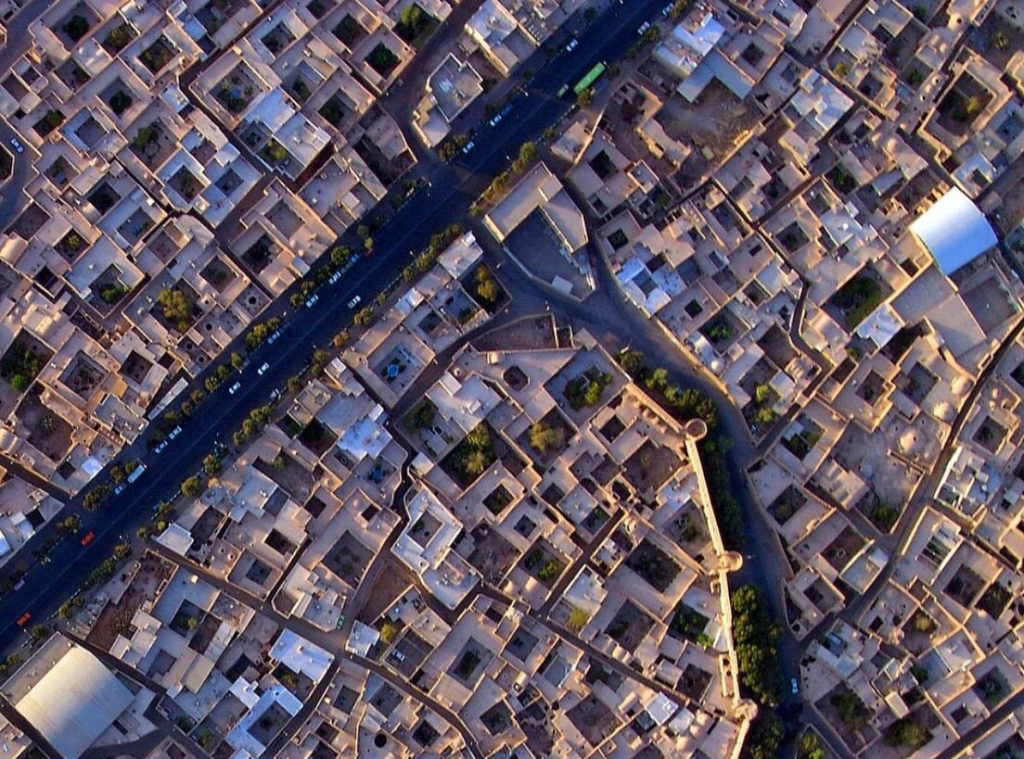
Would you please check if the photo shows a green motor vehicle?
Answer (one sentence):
Yes, looking at the shot, I can spot a green motor vehicle.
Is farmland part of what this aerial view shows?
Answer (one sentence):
No, there's no farmland in this view.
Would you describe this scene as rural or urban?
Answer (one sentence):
The land in this view is best described as urban.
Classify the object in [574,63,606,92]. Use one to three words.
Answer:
bus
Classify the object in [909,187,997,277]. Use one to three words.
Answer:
shed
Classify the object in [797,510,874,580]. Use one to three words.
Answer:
house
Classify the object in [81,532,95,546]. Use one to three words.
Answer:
car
